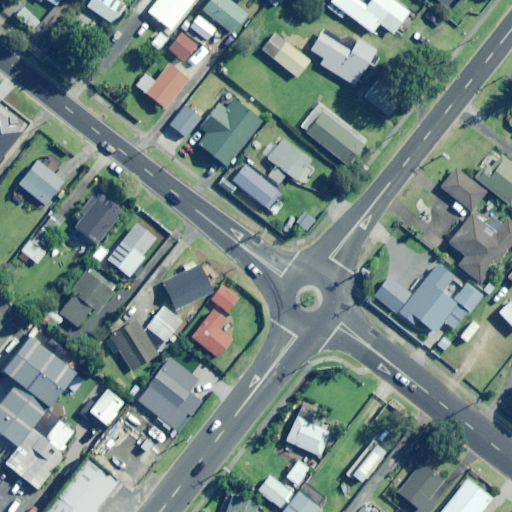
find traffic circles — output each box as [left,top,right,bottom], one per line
[262,227,366,366]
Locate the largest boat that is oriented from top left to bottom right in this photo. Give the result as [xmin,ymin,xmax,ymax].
[146,426,166,442]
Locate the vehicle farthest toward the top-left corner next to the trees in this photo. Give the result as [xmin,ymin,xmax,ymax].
[110,30,124,44]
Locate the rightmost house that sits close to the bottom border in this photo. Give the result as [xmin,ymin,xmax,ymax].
[440,476,493,512]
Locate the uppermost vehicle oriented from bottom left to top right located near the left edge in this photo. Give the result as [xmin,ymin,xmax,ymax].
[4,337,18,354]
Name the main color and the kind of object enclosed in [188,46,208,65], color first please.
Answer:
white camper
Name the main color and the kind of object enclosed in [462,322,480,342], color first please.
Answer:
white camper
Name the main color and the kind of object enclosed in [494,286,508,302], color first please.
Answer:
white car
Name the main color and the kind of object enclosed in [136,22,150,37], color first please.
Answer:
white vehicle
